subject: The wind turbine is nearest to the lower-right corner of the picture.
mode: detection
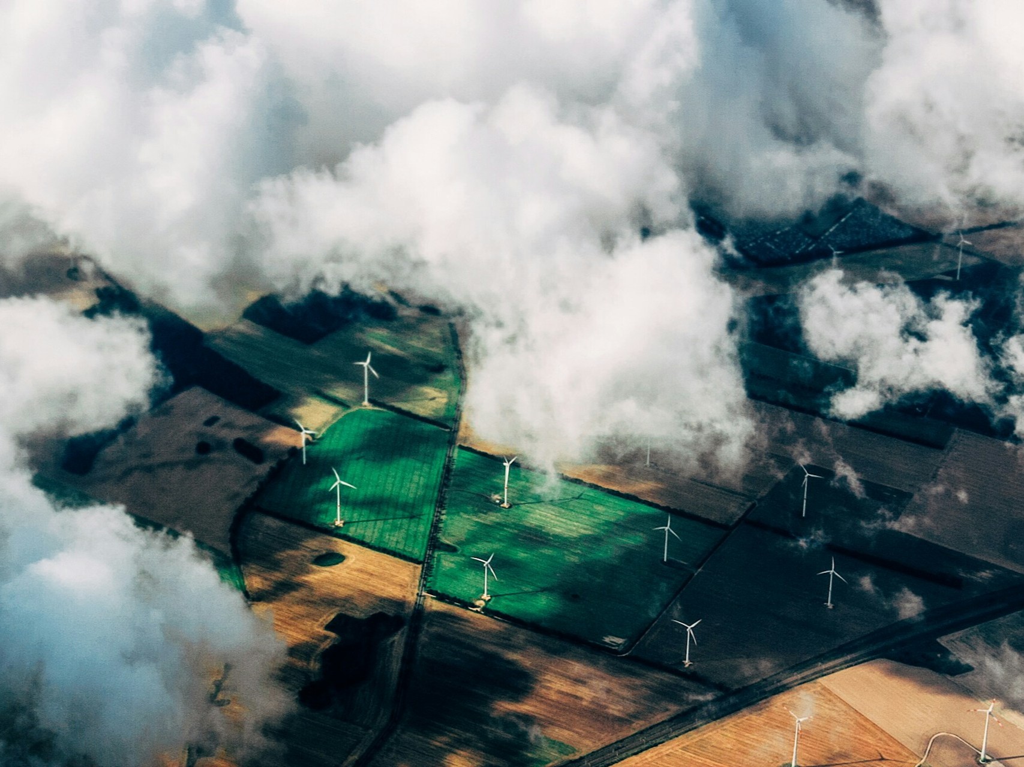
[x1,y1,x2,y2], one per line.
[964,698,1000,758]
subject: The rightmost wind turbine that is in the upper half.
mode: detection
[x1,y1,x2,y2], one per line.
[951,229,971,277]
